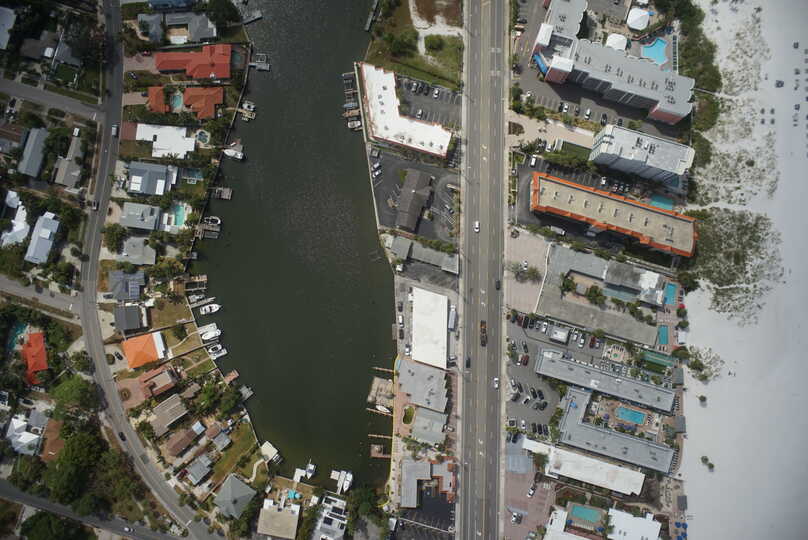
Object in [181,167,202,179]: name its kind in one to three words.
swimming pool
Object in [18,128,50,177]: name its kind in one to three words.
house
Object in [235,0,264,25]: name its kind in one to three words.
pier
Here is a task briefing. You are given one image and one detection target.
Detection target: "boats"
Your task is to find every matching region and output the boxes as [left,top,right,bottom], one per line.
[343,110,361,116]
[200,332,220,341]
[377,405,391,414]
[344,103,358,109]
[307,461,316,478]
[207,344,222,354]
[204,216,221,224]
[343,470,354,493]
[198,305,220,314]
[241,101,255,110]
[188,294,204,302]
[224,149,245,159]
[348,120,362,128]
